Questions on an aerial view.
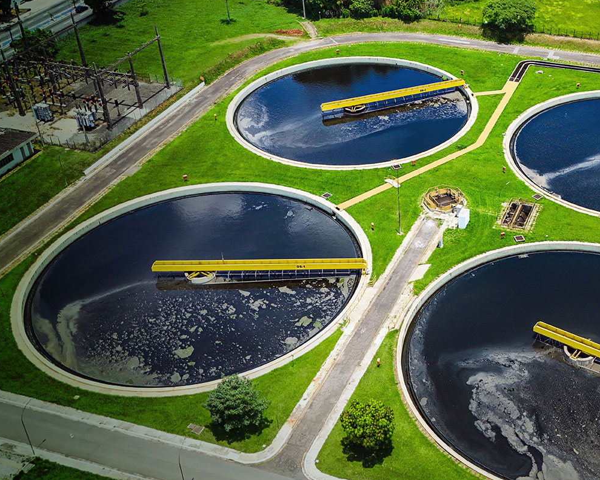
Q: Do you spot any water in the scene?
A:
Yes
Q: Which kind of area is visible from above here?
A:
industrial area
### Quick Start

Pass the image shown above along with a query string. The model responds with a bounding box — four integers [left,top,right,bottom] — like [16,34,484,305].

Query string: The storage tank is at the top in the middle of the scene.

[225,57,477,171]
